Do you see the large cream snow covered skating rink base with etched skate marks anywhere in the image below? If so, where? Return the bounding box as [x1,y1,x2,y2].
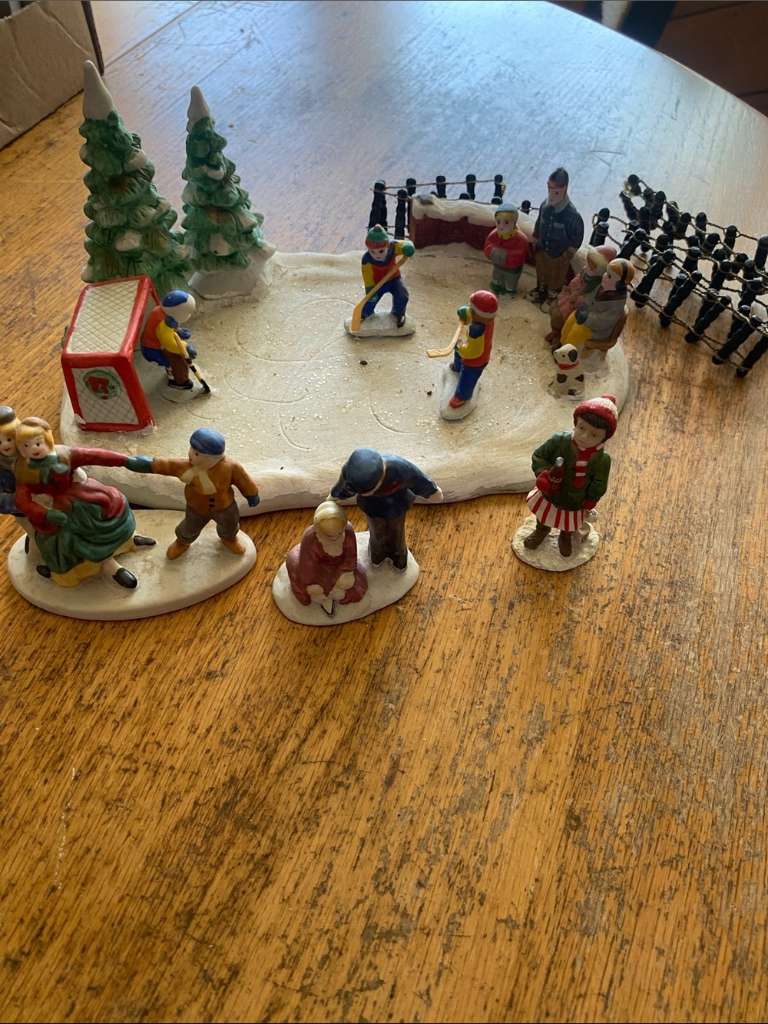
[58,236,633,518]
